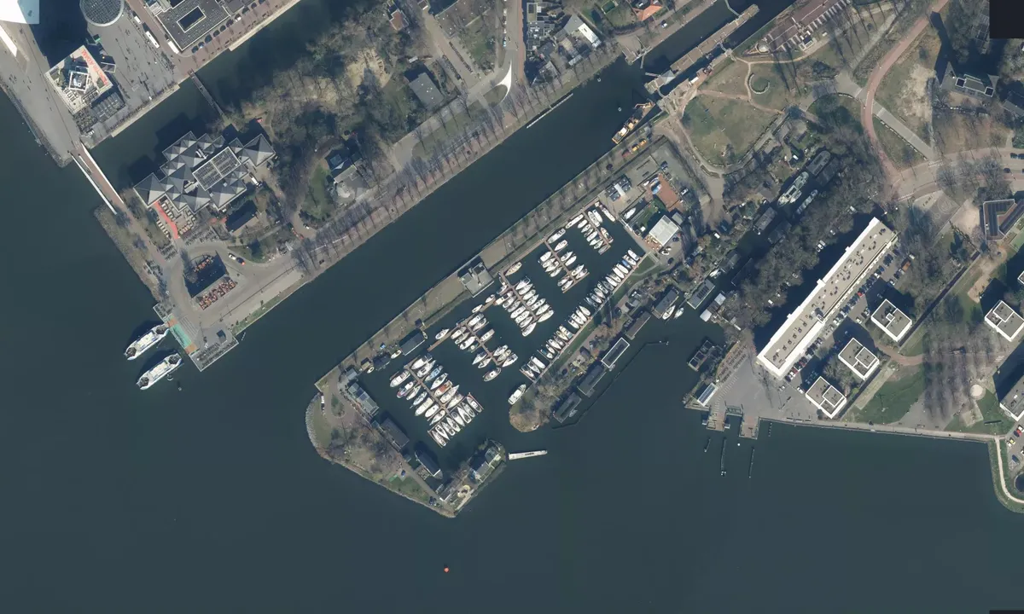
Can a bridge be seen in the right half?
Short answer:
No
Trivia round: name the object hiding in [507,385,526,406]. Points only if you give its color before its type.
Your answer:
white boat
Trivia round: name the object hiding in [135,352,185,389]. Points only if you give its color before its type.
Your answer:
white ship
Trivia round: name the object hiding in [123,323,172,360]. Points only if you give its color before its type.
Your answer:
white ship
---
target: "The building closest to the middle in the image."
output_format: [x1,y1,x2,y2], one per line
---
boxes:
[461,263,493,298]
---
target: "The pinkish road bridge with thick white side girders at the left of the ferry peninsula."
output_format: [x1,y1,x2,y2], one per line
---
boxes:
[68,143,125,213]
